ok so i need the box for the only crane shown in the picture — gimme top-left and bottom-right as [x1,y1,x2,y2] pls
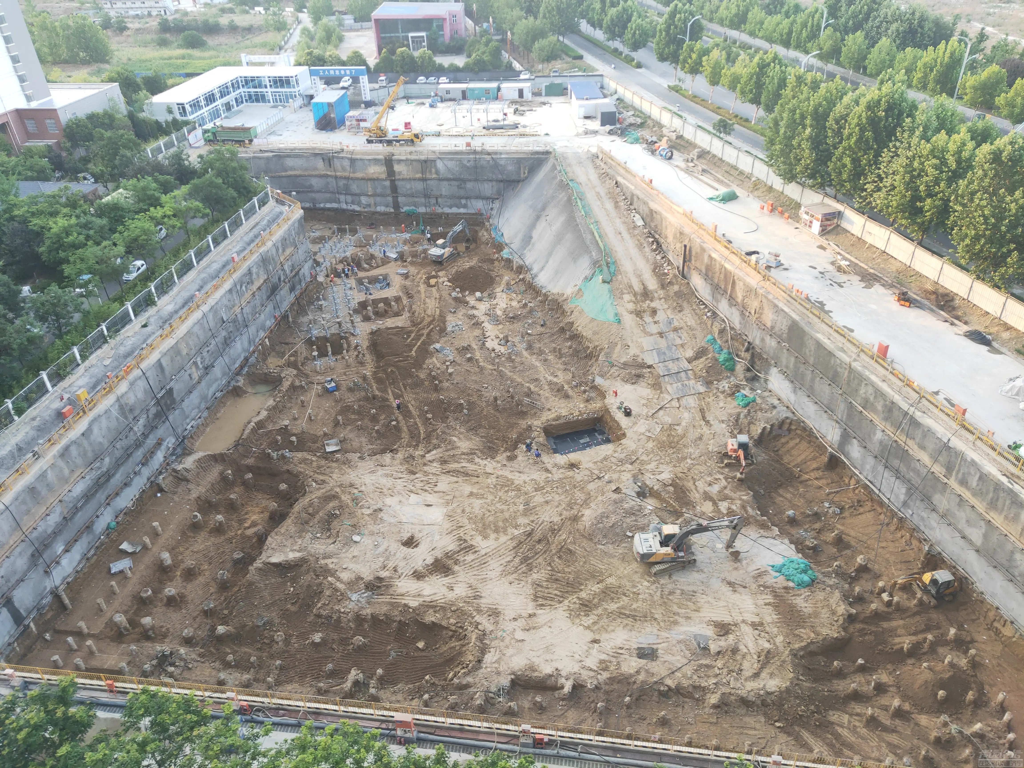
[365,77,425,141]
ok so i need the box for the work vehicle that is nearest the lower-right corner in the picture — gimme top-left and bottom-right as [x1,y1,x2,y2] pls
[890,565,975,616]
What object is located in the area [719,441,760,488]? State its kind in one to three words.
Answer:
work vehicle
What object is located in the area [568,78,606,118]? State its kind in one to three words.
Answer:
house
